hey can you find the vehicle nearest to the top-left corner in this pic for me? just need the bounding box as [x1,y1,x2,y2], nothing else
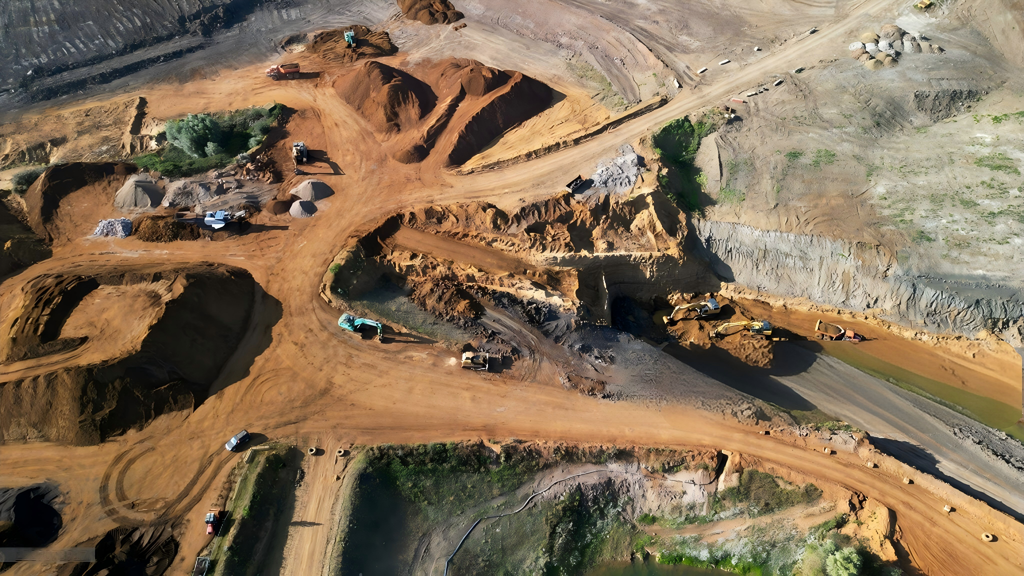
[267,64,298,78]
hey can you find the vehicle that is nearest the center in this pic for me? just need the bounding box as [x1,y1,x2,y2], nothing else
[459,355,491,376]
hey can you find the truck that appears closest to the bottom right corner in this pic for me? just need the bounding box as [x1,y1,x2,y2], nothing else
[817,323,864,344]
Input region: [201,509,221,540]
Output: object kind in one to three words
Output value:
work vehicle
